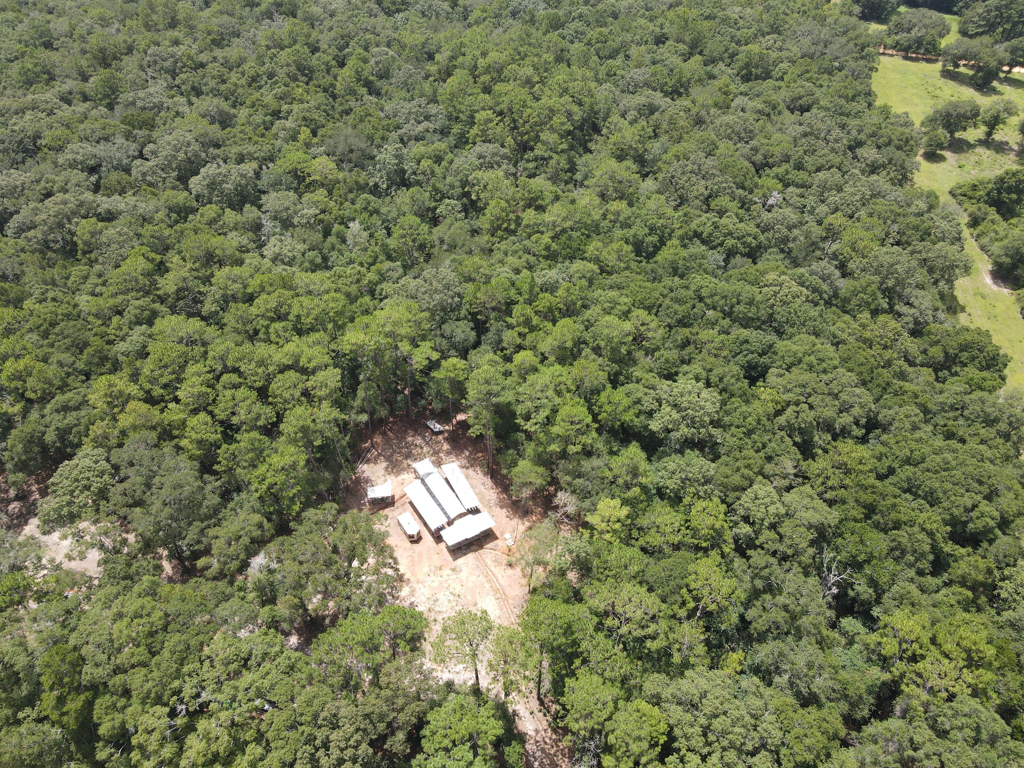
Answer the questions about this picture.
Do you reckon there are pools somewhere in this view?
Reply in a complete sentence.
No, the picture doesn't show any pool.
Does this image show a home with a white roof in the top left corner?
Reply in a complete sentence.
No, in the top left corner there is no home with a white roof.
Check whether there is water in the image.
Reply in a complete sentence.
No, water can't be seen anywhere here.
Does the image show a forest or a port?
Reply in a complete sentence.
It's a forest.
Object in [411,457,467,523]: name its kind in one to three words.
house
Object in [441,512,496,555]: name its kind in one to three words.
house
